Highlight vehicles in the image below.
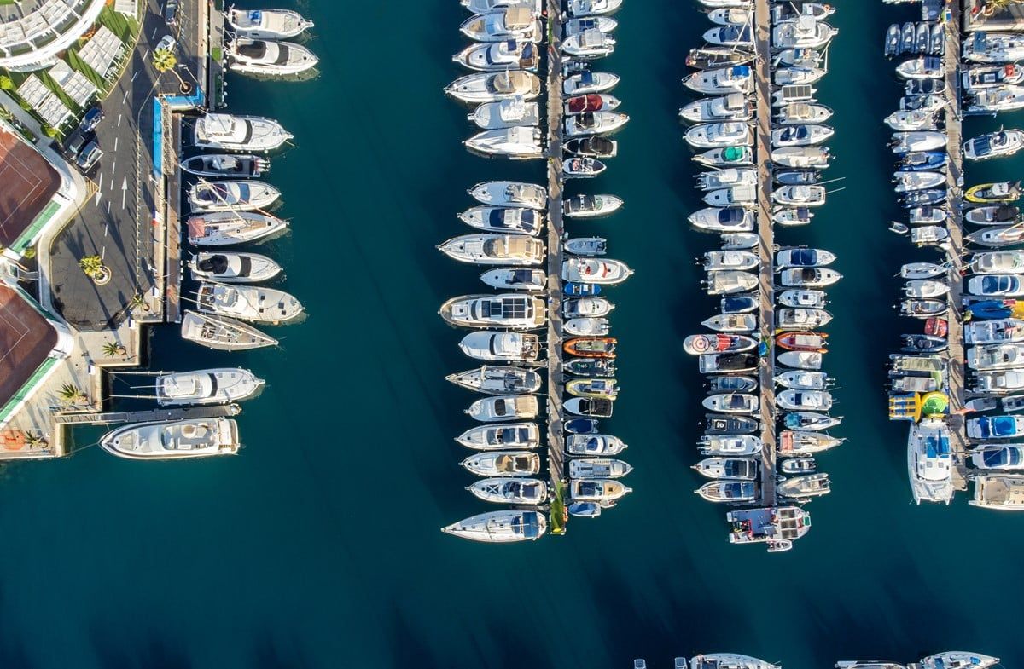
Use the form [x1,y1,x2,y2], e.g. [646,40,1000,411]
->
[75,105,106,129]
[75,139,106,169]
[161,0,181,26]
[152,30,179,52]
[61,125,94,156]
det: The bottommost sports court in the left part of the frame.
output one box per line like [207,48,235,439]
[0,281,82,444]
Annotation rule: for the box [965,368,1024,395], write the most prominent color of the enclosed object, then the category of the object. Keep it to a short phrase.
white boat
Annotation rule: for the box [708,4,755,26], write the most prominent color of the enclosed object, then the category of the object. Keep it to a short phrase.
white boat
